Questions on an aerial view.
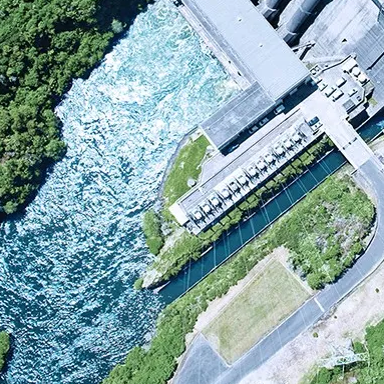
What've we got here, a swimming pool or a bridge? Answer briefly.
bridge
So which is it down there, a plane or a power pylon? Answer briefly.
power pylon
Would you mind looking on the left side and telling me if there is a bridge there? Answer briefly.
No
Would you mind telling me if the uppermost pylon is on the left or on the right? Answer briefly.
right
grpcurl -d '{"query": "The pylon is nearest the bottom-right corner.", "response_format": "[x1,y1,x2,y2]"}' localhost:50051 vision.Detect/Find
[311,335,360,376]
